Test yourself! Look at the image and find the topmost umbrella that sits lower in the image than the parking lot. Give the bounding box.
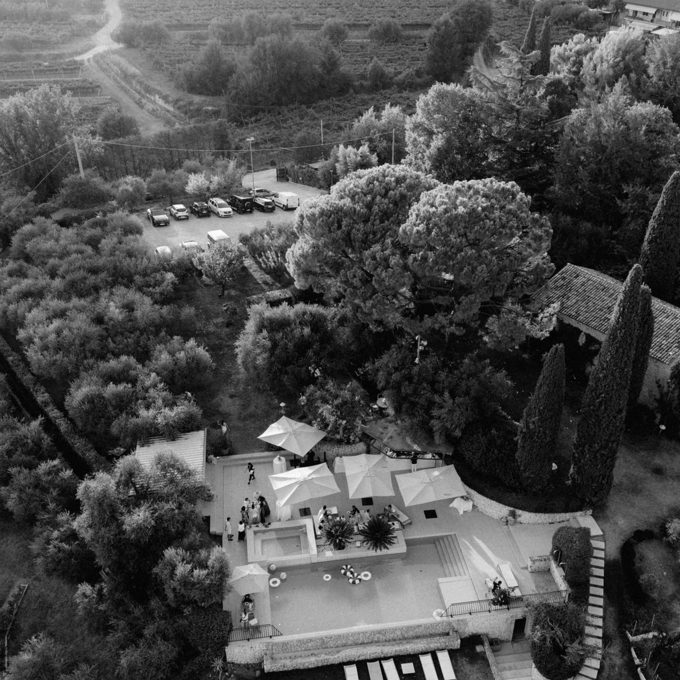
[256,415,330,468]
